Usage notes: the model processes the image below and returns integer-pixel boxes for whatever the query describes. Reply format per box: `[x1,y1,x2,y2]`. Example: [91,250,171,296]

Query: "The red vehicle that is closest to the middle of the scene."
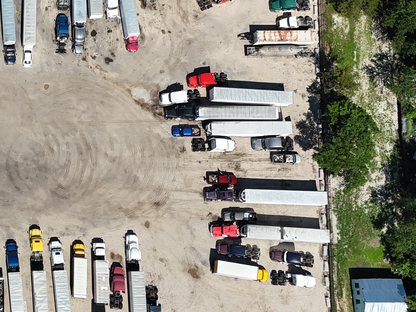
[205,170,236,184]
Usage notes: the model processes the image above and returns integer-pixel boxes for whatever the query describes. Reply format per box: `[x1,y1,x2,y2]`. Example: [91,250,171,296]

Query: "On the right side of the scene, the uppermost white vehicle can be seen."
[277,15,313,30]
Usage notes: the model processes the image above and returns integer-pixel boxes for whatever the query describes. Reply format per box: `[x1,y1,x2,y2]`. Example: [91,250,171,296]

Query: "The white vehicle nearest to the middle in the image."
[190,137,235,152]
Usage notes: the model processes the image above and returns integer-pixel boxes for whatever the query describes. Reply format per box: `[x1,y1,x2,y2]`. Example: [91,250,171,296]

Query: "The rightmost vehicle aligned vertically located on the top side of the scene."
[118,0,139,53]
